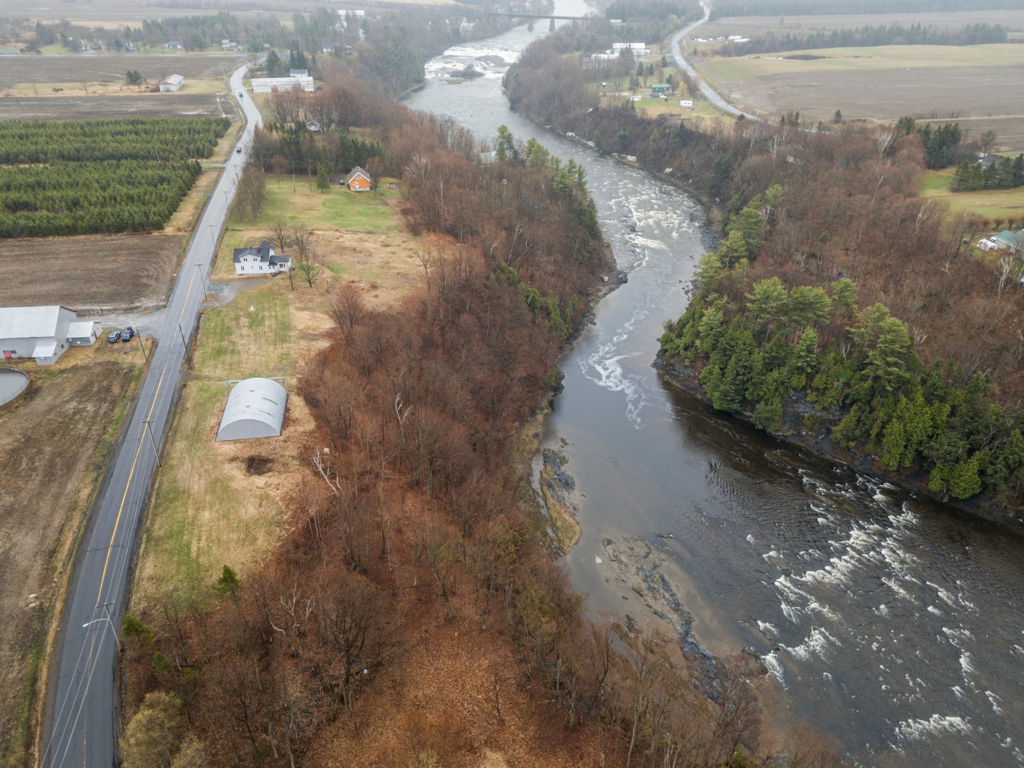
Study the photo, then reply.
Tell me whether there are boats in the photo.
No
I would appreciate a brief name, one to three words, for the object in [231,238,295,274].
house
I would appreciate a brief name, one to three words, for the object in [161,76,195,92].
barn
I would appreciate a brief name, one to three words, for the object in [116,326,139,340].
vehicle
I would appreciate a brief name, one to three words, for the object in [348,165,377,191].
house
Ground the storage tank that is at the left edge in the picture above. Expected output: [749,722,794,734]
[0,365,29,419]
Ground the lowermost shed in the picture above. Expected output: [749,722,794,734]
[215,376,297,441]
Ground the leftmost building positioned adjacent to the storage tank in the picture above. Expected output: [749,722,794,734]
[0,305,84,365]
